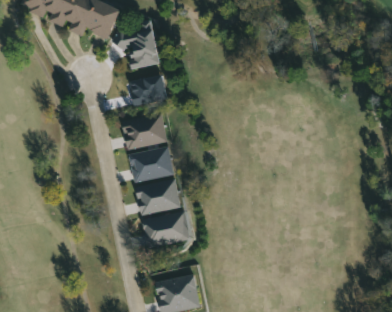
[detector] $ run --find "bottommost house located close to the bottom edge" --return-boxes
[152,274,202,312]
